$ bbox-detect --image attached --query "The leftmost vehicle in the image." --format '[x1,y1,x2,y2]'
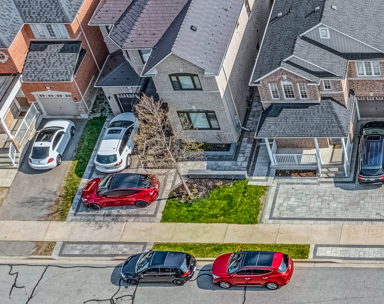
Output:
[29,119,78,170]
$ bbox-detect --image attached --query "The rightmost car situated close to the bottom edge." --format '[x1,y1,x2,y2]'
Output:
[206,257,294,301]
